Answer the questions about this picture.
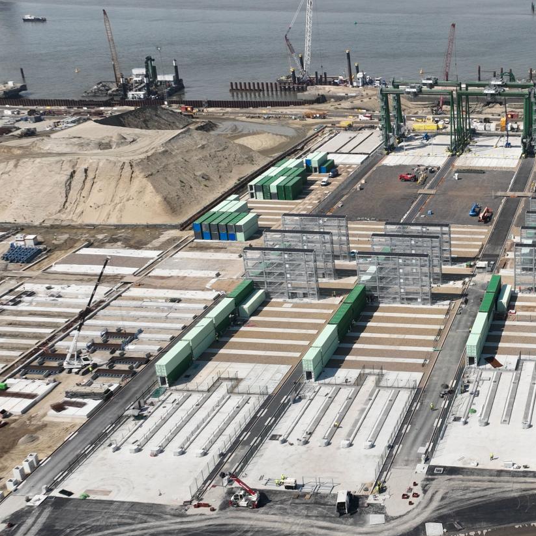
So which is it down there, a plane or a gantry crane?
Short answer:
gantry crane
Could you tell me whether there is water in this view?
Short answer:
Yes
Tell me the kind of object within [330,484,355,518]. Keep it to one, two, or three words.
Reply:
vehicle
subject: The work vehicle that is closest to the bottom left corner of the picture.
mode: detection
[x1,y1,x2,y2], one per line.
[212,466,259,506]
